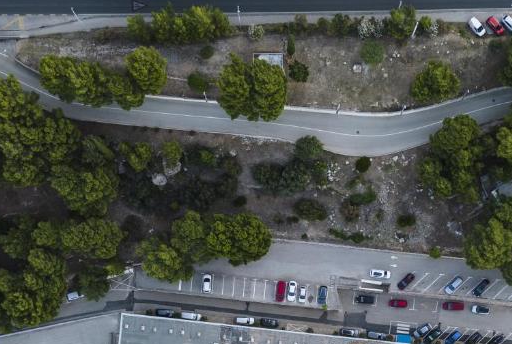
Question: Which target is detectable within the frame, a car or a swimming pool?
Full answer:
Visible in the photo is a car.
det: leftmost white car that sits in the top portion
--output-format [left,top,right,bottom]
[468,16,486,37]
